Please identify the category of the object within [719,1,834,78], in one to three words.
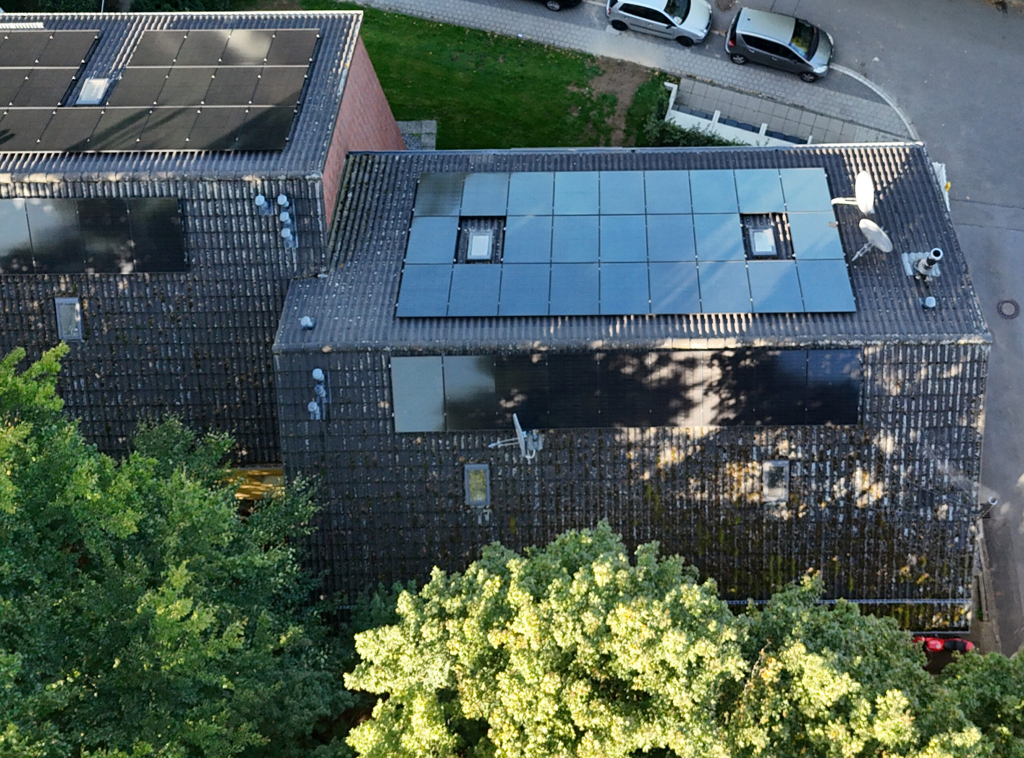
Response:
car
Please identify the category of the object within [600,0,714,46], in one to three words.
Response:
car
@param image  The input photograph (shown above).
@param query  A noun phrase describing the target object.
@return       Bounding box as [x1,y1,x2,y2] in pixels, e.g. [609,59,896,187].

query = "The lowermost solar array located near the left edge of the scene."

[0,198,188,276]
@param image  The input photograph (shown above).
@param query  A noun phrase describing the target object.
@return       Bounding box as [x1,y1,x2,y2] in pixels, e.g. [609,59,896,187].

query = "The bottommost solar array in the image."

[390,350,862,432]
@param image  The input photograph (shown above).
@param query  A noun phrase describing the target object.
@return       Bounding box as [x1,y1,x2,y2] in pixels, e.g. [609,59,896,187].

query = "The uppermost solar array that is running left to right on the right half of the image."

[395,167,855,317]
